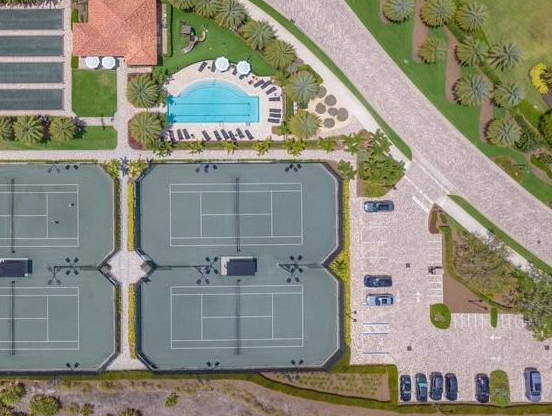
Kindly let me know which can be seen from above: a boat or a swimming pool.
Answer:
swimming pool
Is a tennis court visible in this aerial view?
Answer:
Yes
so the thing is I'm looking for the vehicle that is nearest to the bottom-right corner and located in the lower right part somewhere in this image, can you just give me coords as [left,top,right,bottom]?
[524,369,542,399]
